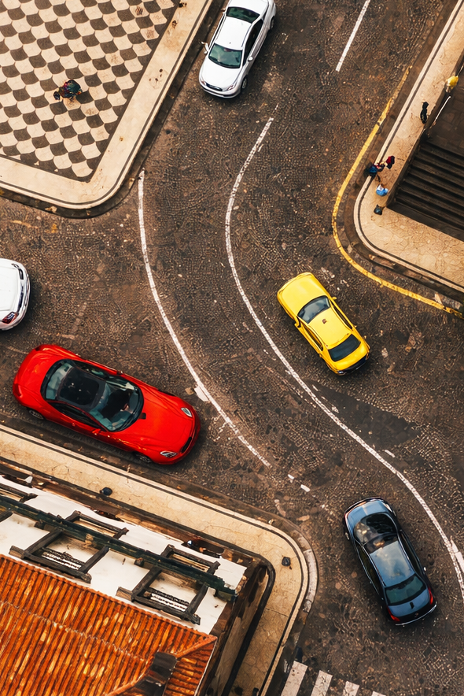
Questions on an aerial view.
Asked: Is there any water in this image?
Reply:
No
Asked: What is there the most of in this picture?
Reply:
paved ground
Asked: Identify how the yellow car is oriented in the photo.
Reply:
on a diagonal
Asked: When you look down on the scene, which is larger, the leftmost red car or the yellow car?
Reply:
the leftmost red car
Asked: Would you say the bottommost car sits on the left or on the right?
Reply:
right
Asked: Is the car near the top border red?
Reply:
No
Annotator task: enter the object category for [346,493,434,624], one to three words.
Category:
car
